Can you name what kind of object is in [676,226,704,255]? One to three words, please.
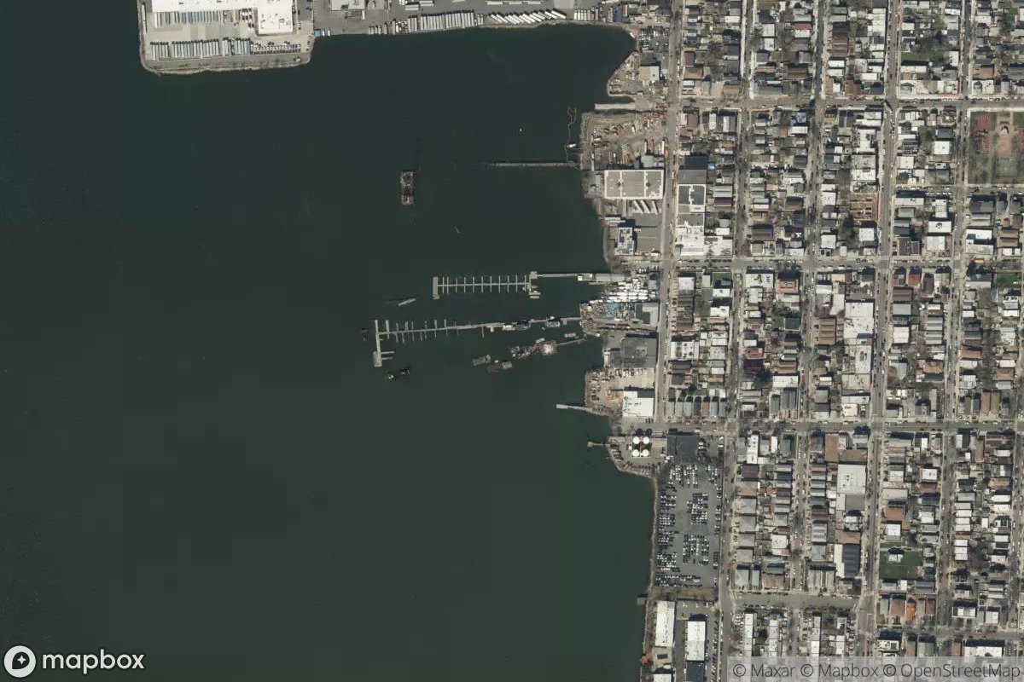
building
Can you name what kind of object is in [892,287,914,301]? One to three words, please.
house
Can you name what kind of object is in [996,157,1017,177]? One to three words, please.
sports court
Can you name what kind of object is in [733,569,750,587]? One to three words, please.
house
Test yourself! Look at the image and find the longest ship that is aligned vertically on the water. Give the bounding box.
[401,172,413,204]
